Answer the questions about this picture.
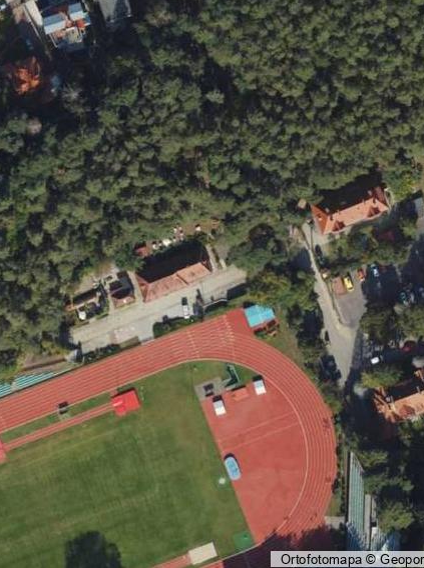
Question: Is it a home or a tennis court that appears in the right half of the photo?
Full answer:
The one visible in the right half of the photo is a home.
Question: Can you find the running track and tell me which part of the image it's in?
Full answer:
You can find the running track in the bottom area of the picture.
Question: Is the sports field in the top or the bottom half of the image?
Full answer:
The sports field sits in the bottom half of the picture.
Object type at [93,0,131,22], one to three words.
house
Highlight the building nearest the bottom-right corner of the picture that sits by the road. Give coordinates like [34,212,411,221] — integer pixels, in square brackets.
[369,362,424,425]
